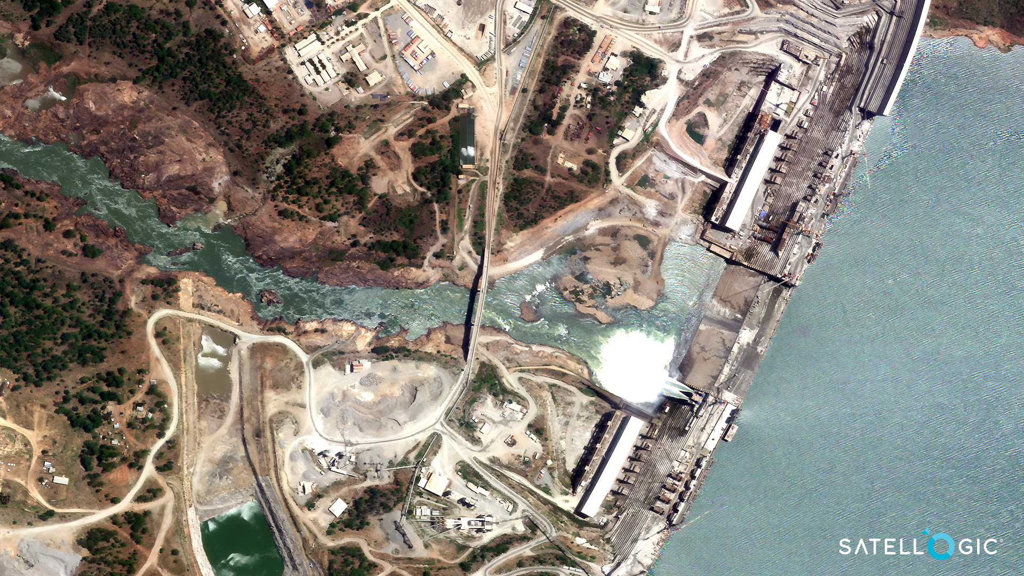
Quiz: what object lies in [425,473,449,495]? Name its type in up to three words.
building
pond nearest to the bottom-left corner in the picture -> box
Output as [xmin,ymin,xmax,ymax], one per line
[198,329,236,395]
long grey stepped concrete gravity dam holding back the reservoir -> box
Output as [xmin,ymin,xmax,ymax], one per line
[577,0,931,576]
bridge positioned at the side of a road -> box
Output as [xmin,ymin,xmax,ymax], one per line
[465,244,490,366]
